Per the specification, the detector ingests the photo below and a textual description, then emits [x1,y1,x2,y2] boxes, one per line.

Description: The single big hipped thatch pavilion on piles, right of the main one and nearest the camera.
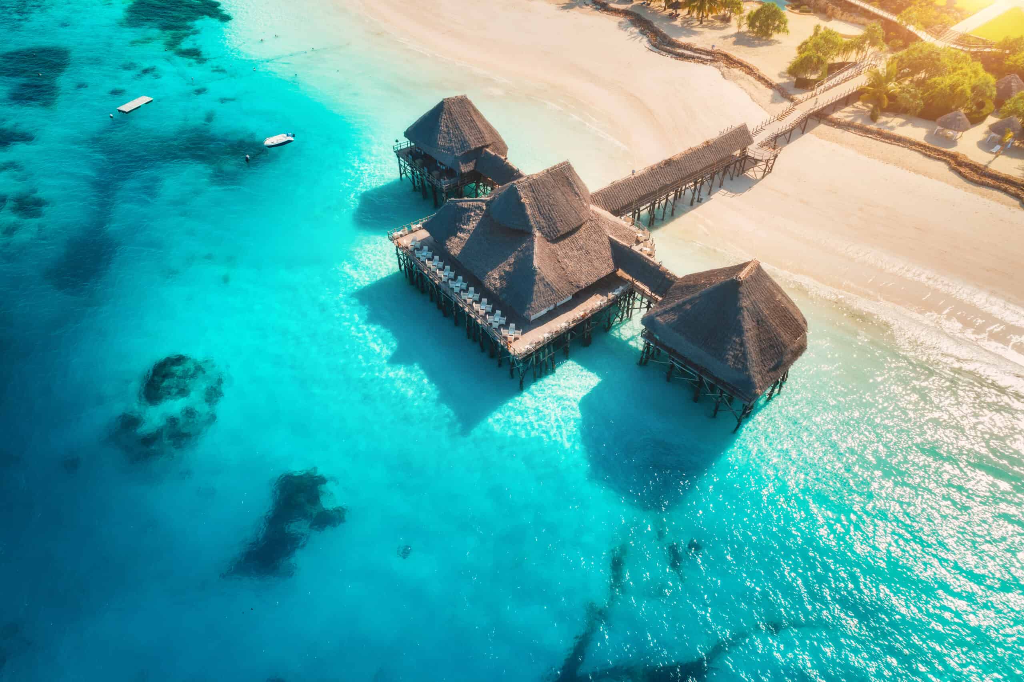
[637,259,813,444]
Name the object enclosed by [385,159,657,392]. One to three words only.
building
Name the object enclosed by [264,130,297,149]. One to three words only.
boat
